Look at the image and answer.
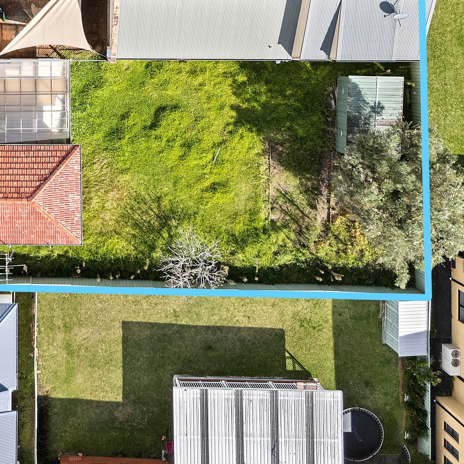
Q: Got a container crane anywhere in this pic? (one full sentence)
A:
No, the frame has no container crane in it.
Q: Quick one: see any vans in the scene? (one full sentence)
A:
No, the scene contains no van.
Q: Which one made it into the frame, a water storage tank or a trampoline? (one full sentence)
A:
It is a trampoline that can be seen here.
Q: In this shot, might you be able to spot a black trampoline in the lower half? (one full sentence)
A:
Yes, looking in the lower half, one can make out a black trampoline.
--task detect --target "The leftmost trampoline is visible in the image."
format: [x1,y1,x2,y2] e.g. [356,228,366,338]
[344,408,384,455]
